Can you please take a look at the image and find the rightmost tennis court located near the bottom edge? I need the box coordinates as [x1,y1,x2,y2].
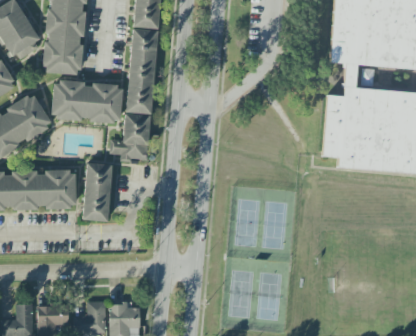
[252,260,291,333]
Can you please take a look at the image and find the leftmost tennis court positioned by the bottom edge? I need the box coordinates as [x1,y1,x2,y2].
[221,258,258,331]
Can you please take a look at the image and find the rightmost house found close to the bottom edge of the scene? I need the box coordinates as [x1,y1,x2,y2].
[108,302,141,336]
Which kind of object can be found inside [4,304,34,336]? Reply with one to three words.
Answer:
house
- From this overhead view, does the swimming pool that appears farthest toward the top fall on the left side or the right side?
left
